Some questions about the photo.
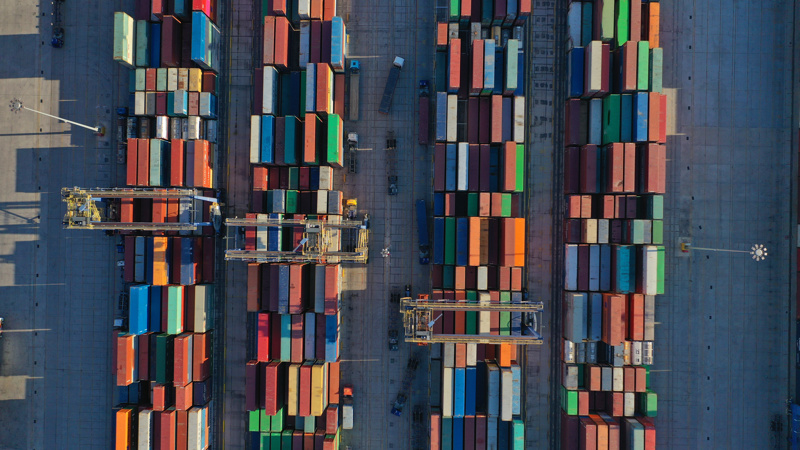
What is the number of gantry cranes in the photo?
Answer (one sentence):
The count of gantry cranes comes to 3.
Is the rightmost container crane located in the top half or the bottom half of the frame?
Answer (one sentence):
You can find the rightmost container crane in the bottom half.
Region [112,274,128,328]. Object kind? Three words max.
vehicle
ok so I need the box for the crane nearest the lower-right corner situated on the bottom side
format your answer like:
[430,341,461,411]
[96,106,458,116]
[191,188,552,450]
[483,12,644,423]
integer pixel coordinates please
[396,280,544,348]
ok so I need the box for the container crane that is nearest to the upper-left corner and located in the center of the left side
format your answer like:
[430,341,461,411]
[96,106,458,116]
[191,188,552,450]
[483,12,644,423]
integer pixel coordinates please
[56,184,227,240]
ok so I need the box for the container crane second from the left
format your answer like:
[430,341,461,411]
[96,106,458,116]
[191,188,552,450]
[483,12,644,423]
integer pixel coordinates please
[223,207,374,266]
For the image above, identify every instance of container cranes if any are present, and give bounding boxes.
[56,184,227,240]
[223,207,374,266]
[396,280,544,348]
